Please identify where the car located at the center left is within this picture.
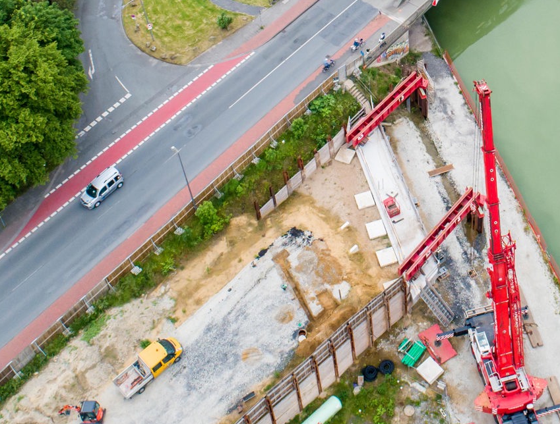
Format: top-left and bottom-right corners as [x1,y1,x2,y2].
[75,167,126,213]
